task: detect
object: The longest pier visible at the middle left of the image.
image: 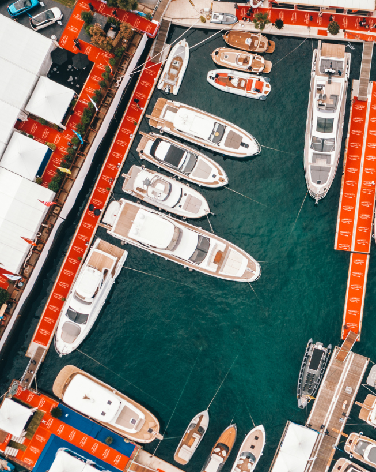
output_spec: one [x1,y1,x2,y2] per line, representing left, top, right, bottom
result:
[26,42,172,357]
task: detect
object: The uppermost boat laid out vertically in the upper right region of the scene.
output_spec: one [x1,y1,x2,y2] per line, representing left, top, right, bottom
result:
[303,42,350,204]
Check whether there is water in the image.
Yes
